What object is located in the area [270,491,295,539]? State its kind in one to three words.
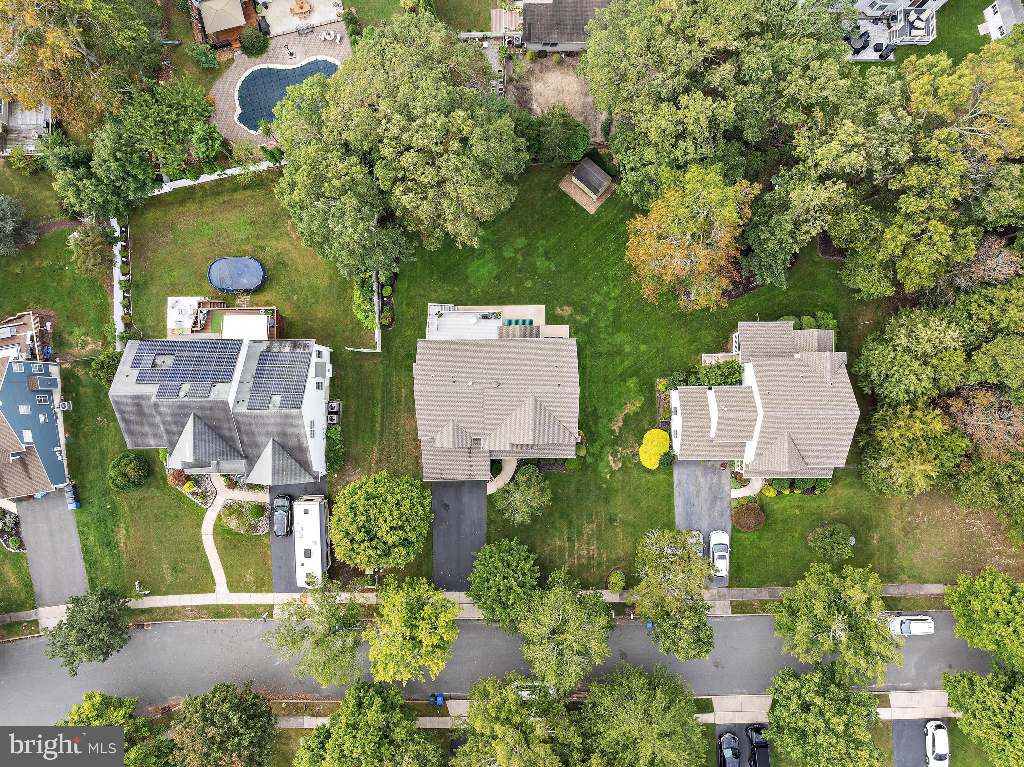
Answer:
car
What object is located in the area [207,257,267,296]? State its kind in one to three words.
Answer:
swimming pool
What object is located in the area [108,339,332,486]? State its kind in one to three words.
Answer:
house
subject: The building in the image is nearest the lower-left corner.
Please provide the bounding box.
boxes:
[0,357,69,496]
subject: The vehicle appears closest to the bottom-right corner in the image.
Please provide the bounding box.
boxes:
[922,719,949,767]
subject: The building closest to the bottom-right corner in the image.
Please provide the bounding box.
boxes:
[672,321,863,479]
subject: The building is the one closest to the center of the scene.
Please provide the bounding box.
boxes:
[413,325,581,482]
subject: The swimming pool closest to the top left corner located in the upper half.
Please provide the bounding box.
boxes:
[235,56,343,135]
